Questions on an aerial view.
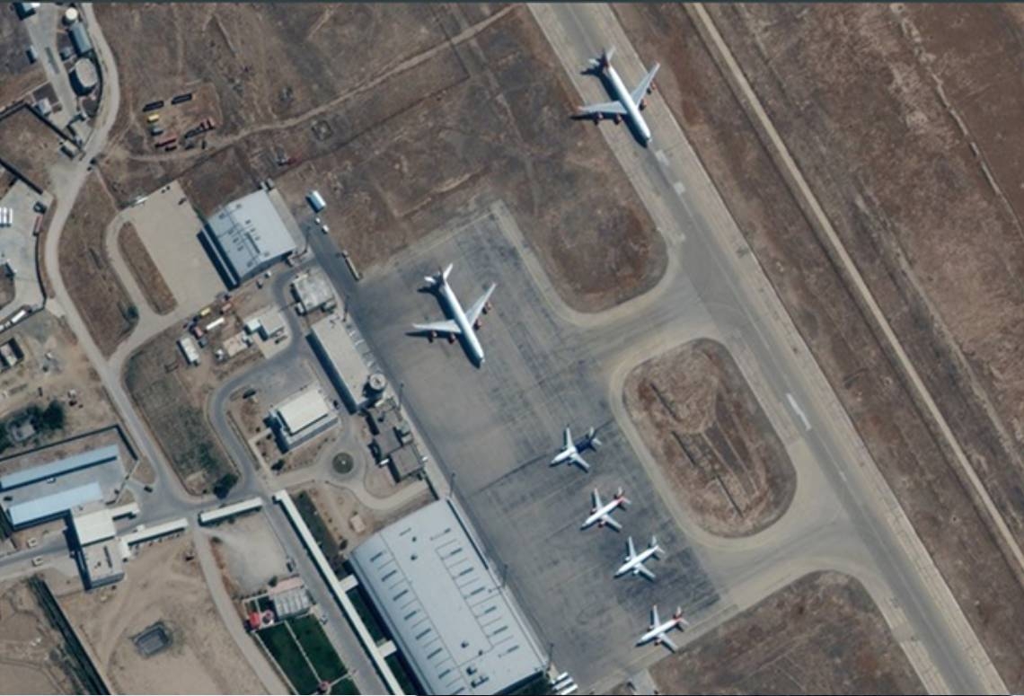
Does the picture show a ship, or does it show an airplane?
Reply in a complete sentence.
There is an airplane in the scene.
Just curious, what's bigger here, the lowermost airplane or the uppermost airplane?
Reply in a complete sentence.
The uppermost airplane covers a greater area than the lowermost airplane.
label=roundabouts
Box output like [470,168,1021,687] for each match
[322,443,364,482]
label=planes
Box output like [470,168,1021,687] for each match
[613,536,664,577]
[580,49,664,143]
[580,488,631,528]
[549,427,600,468]
[635,606,688,648]
[413,268,499,365]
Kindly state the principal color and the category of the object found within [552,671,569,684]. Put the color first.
white vehicle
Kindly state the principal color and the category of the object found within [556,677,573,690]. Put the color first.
white vehicle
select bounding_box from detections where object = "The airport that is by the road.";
[284,0,1008,696]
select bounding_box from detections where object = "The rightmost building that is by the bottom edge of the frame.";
[351,498,546,696]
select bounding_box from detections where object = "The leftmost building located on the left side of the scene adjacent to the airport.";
[201,190,303,286]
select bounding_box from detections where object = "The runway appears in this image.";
[527,0,1008,696]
